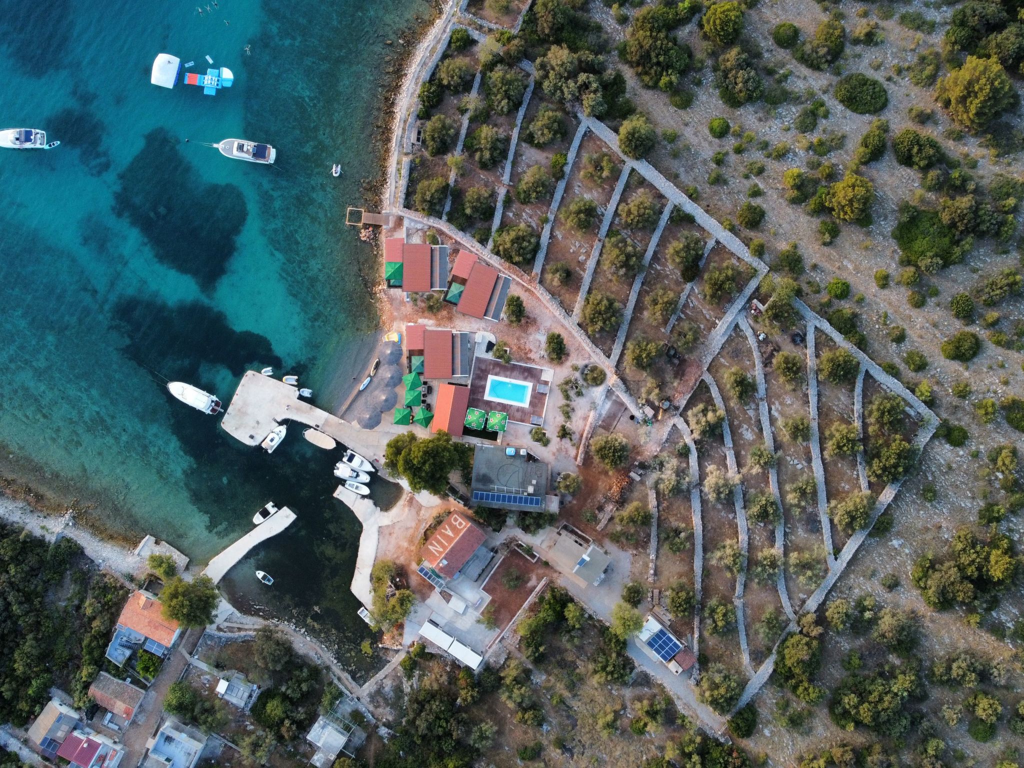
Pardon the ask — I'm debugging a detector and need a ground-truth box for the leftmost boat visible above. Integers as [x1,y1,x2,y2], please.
[0,126,49,148]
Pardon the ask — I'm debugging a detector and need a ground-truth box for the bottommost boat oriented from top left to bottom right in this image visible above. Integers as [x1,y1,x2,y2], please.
[357,606,373,625]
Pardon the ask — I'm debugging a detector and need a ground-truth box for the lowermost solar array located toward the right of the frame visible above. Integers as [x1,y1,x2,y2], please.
[647,629,682,663]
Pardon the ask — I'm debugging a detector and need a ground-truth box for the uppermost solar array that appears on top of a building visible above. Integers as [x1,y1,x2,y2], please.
[473,491,540,507]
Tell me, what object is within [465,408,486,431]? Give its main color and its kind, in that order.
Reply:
green umbrella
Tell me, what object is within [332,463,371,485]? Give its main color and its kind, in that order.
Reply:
white boat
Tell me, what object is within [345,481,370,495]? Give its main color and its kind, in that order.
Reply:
white boat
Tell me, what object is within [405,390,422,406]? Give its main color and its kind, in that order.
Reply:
green umbrella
